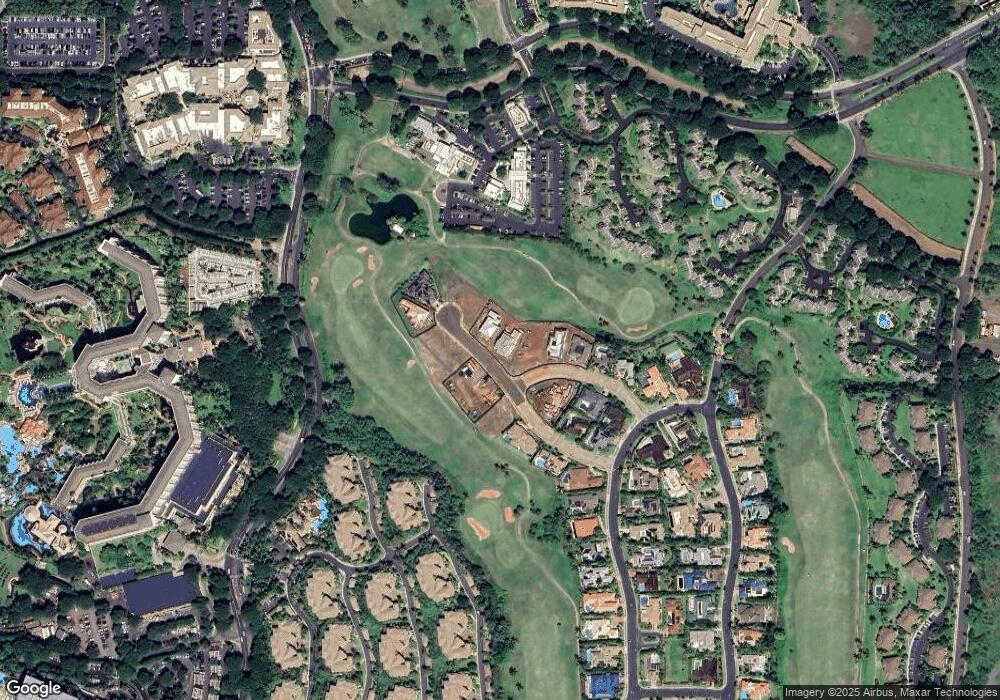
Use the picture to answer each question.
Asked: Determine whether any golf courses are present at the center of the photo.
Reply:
Yes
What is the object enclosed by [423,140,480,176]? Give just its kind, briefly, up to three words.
building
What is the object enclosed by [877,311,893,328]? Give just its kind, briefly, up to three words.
swimming pool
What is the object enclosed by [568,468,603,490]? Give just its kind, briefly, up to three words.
house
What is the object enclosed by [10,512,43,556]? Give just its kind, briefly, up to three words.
swimming pool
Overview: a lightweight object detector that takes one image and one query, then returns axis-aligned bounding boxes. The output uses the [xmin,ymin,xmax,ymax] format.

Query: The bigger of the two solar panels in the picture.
[171,441,233,512]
